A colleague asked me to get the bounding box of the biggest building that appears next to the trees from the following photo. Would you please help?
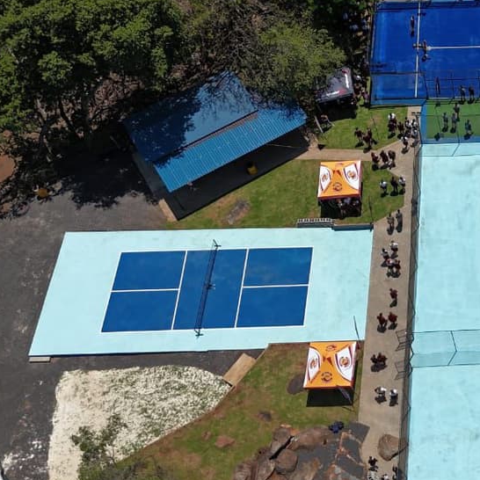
[122,66,309,231]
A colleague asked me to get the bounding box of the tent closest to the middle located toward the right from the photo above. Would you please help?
[318,162,366,215]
